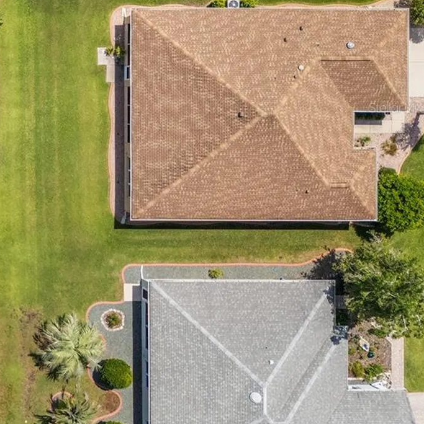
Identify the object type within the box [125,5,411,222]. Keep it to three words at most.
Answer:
house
